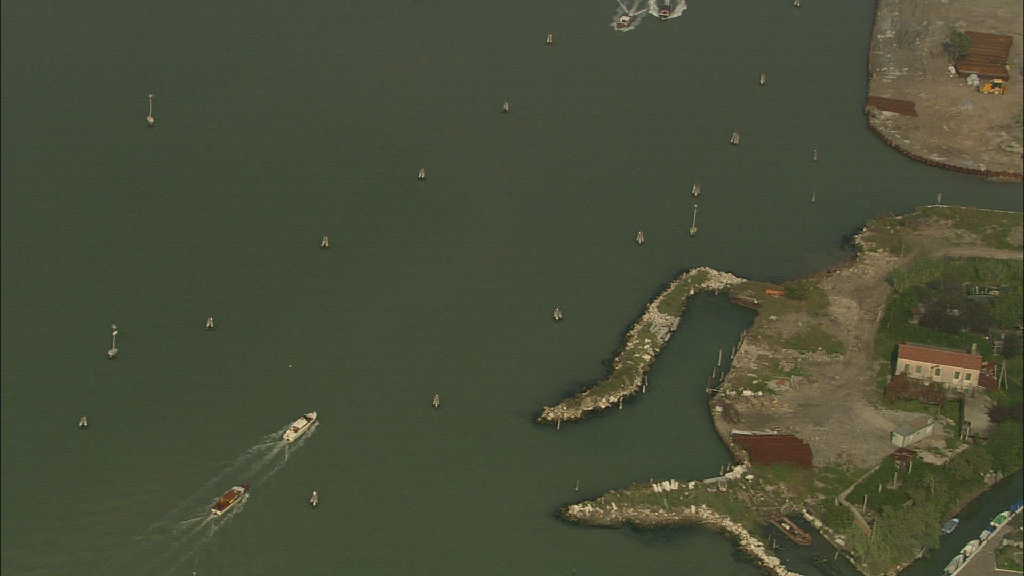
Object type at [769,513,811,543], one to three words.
ship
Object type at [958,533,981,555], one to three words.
boat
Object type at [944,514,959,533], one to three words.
boat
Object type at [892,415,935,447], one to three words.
building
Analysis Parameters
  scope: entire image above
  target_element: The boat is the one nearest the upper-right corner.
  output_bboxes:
[659,2,671,21]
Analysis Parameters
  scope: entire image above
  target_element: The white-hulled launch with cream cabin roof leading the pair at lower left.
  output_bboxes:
[281,411,317,443]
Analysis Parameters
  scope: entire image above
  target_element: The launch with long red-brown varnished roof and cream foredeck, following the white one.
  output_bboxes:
[210,484,247,516]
